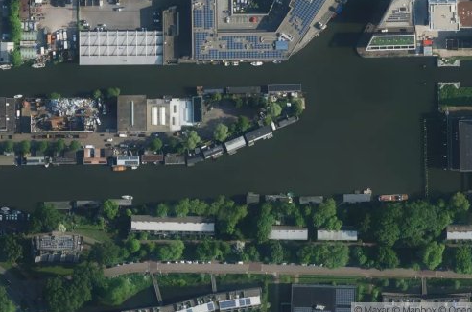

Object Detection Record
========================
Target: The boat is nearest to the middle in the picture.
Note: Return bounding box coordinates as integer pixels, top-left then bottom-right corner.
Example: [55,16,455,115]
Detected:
[224,136,246,155]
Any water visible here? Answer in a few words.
Yes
